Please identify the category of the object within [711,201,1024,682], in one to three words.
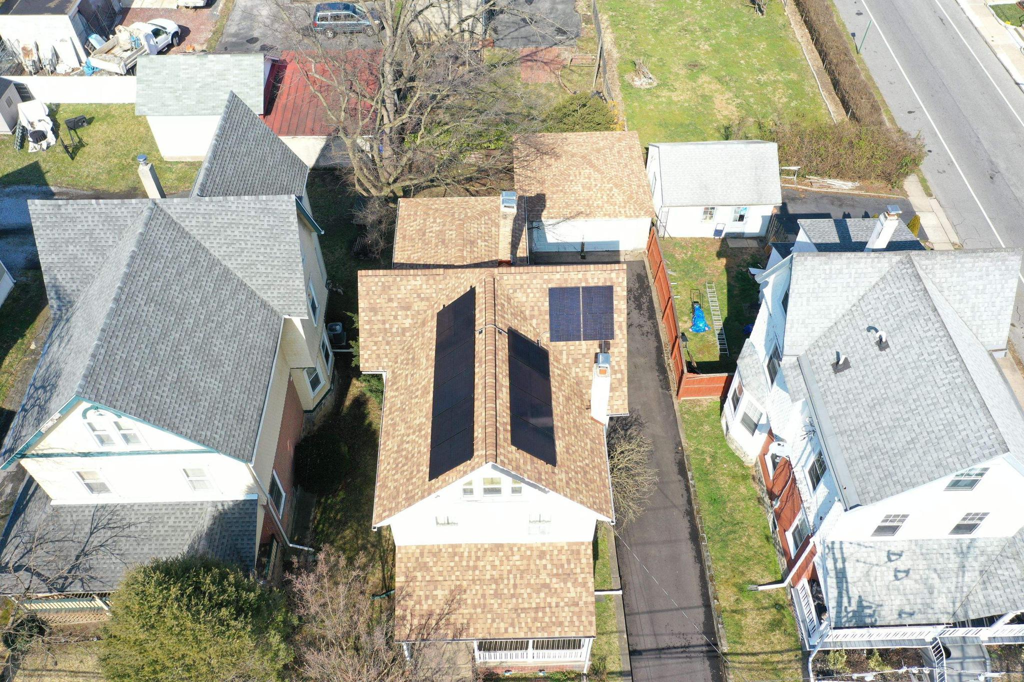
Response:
house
